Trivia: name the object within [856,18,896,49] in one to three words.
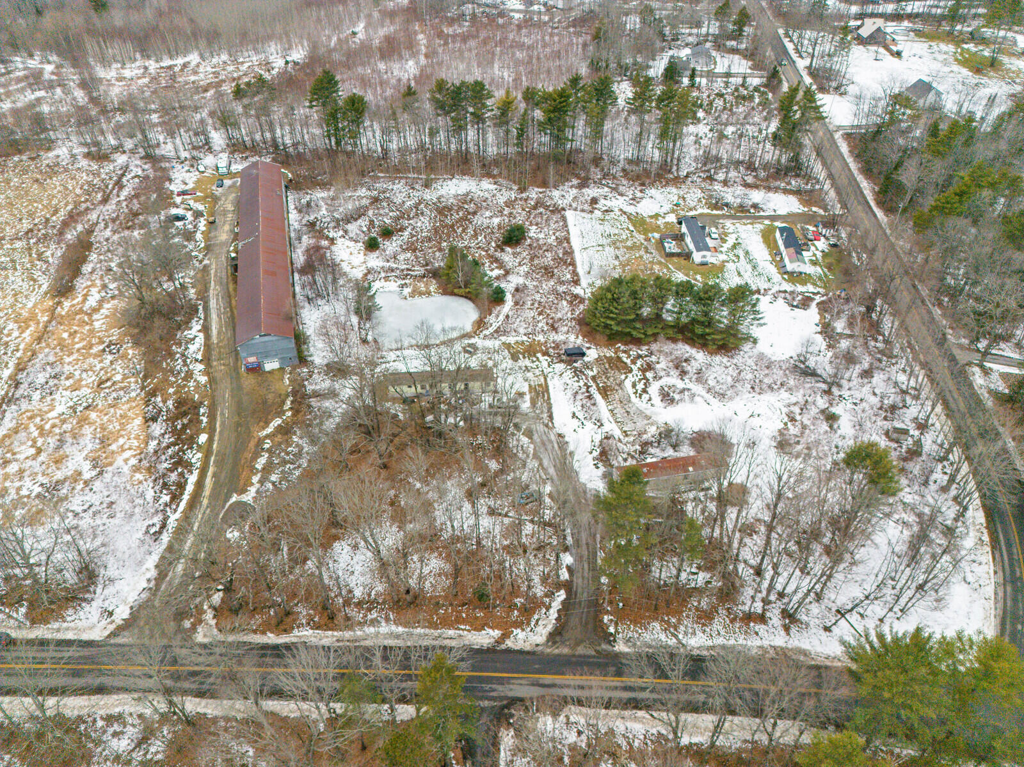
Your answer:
house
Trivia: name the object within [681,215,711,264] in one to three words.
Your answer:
house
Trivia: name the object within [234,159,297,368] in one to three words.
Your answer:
barn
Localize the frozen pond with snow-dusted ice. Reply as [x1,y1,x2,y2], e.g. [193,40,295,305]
[372,291,480,350]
